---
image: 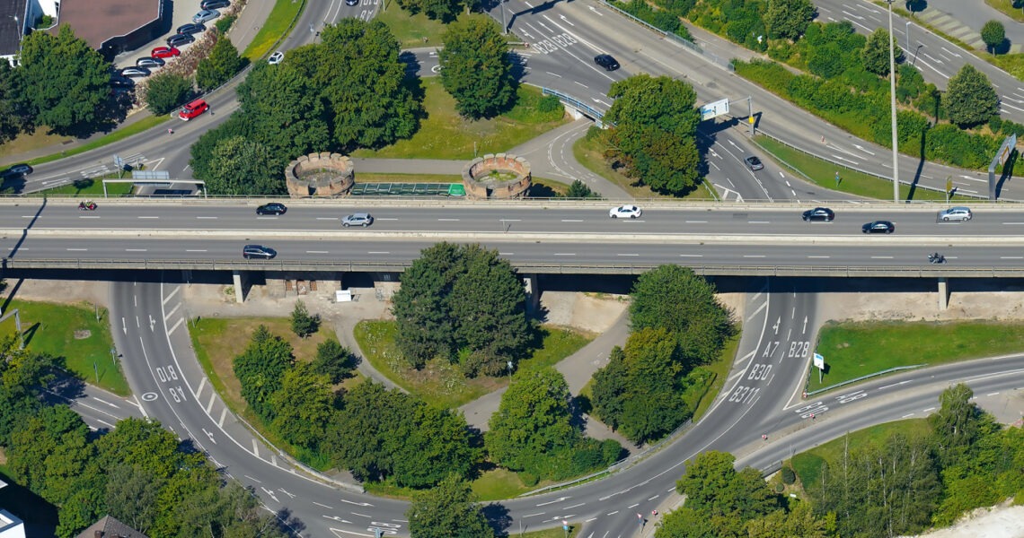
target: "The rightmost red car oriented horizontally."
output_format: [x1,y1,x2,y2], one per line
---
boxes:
[153,46,180,58]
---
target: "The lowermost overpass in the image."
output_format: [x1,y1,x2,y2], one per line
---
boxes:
[0,192,1024,311]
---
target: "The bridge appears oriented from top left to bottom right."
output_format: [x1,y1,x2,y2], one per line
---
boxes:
[538,85,611,138]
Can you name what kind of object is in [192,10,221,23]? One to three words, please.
vehicle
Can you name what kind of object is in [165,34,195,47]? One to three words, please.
vehicle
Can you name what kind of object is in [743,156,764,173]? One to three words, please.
car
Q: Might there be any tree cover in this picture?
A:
Yes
